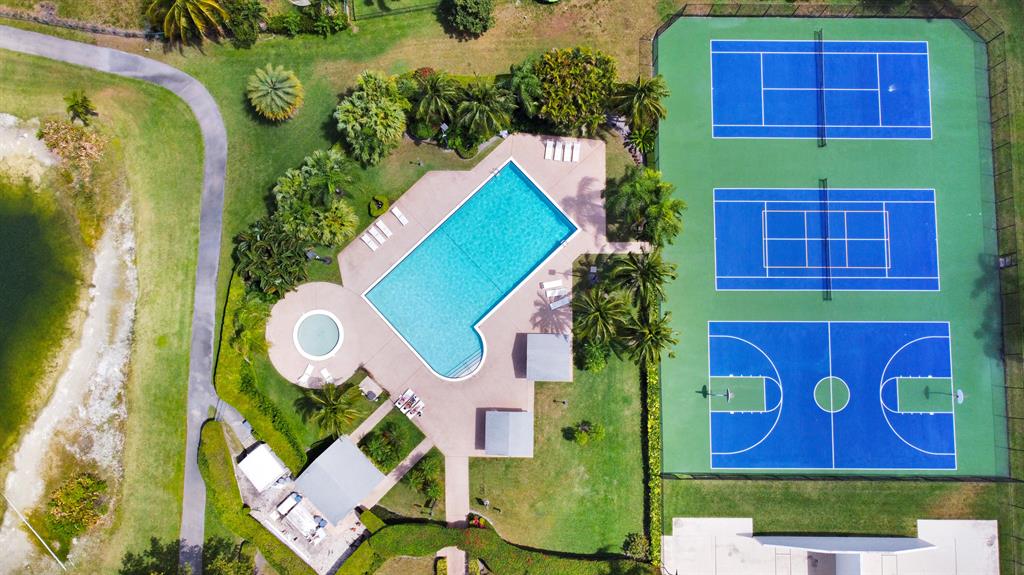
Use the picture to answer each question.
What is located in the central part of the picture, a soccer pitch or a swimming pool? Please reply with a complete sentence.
The feature located in the central part of the picture is a swimming pool.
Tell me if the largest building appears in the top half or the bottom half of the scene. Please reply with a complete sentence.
Seen from above, the largest building lies in the bottom half of the view.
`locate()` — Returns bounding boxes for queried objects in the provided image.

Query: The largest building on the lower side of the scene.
[295,438,386,526]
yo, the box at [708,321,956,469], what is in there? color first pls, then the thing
blue basketball court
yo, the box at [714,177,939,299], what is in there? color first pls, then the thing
blue tennis court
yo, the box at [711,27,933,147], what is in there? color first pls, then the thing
blue tennis court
